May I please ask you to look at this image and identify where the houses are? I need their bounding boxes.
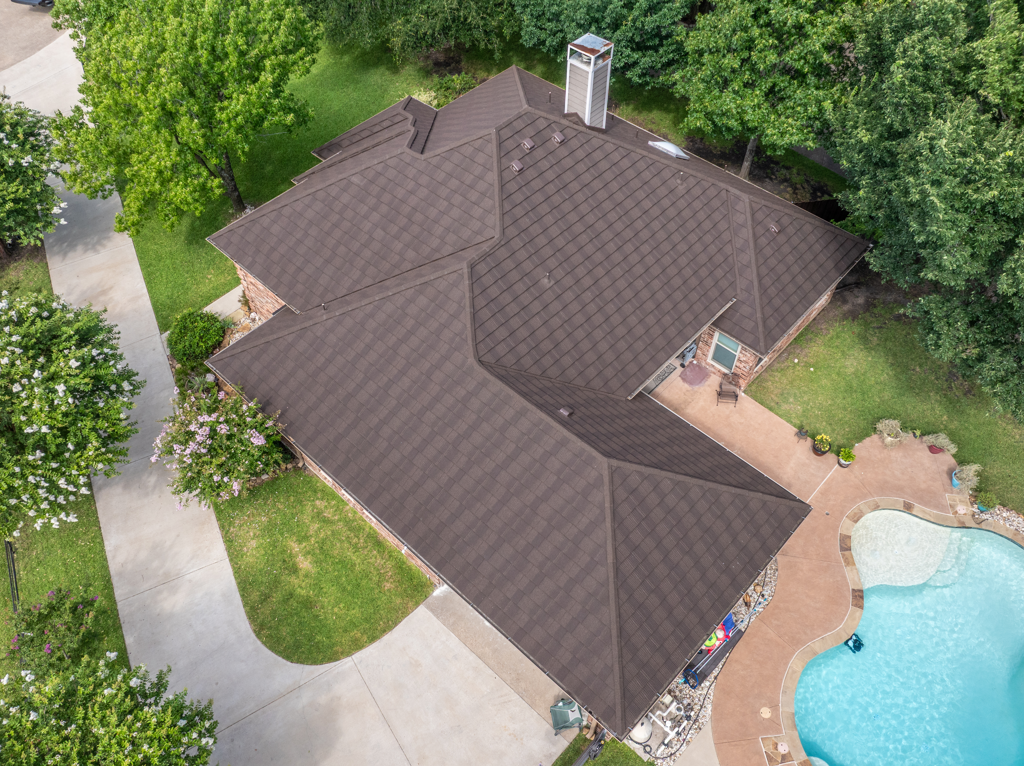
[205,33,873,744]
